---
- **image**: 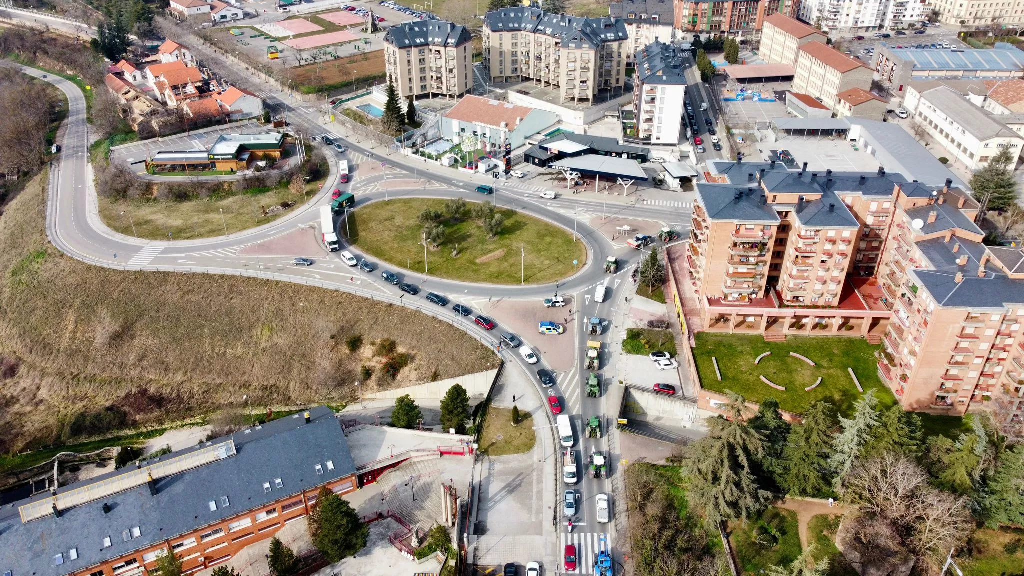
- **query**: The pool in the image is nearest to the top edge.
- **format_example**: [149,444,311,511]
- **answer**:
[357,103,383,117]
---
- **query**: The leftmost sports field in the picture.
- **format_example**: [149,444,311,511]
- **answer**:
[191,7,389,78]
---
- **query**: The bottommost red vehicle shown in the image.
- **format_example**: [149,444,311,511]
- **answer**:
[562,541,578,570]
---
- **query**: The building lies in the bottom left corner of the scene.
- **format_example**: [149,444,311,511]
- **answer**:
[0,406,357,576]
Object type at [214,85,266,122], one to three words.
house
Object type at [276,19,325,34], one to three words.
sports court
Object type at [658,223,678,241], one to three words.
work vehicle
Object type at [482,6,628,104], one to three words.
building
